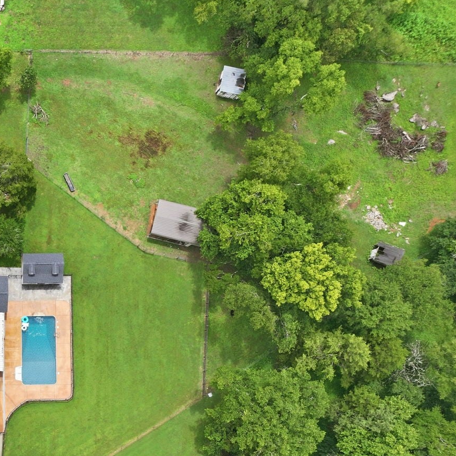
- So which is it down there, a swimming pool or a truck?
swimming pool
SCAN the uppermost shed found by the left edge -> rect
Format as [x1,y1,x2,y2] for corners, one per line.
[21,253,64,285]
